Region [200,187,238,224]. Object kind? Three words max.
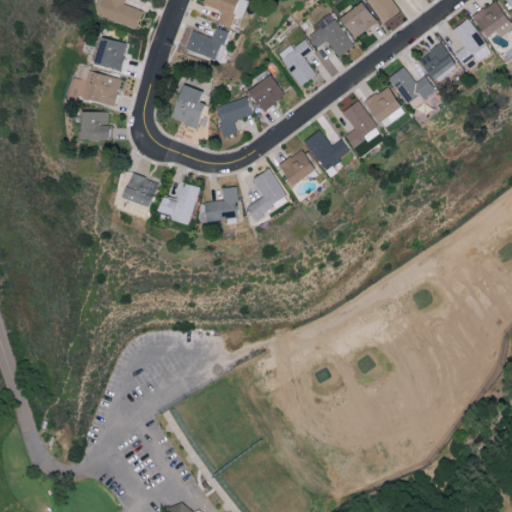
house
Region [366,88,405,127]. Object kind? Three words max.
house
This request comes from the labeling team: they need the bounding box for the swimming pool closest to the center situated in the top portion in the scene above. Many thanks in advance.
[298,182,316,196]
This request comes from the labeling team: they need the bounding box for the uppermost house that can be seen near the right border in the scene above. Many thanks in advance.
[474,2,512,37]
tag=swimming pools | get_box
[298,182,316,196]
[493,35,508,48]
